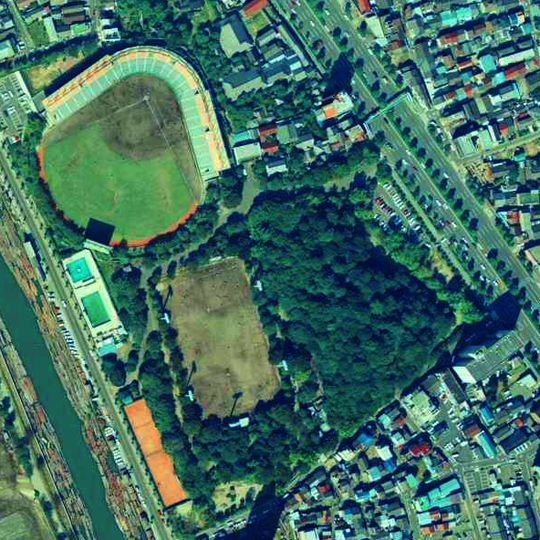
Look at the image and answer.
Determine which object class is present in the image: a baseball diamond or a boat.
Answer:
baseball diamond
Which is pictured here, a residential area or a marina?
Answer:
residential area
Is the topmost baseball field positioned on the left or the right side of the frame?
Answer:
left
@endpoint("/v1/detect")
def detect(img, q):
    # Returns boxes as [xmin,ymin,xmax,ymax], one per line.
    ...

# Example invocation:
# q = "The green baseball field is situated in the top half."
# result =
[37,73,202,248]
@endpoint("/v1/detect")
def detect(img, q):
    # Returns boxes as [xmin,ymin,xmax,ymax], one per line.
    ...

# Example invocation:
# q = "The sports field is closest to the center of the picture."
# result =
[166,256,280,419]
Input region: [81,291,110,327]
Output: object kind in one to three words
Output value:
swimming pool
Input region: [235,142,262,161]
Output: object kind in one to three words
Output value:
house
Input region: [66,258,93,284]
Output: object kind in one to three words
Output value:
swimming pool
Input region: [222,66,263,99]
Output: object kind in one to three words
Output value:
building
